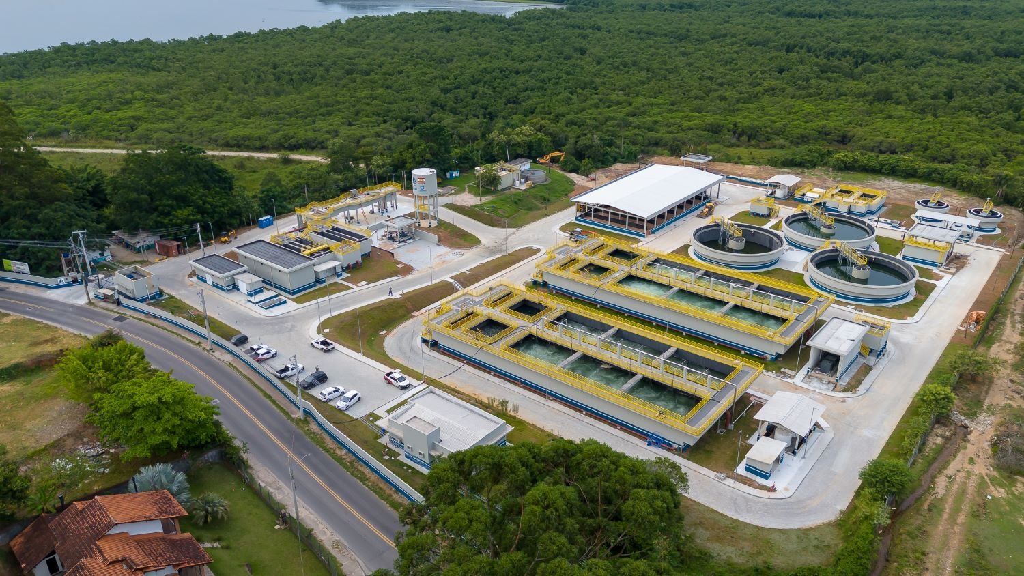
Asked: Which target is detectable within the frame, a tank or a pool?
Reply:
tank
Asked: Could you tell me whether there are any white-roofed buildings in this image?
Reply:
Yes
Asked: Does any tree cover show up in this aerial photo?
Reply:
Yes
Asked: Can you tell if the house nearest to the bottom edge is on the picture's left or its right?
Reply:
left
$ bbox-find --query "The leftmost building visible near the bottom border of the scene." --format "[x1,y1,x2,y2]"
[7,486,221,576]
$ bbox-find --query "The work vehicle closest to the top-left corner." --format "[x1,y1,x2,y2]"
[219,229,240,243]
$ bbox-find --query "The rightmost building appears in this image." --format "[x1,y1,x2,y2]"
[902,222,961,266]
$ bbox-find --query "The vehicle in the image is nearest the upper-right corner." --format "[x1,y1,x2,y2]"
[696,200,718,217]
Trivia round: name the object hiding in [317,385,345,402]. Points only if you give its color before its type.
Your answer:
white car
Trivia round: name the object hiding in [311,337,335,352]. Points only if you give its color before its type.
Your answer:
white vehicle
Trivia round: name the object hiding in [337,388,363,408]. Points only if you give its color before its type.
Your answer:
white car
